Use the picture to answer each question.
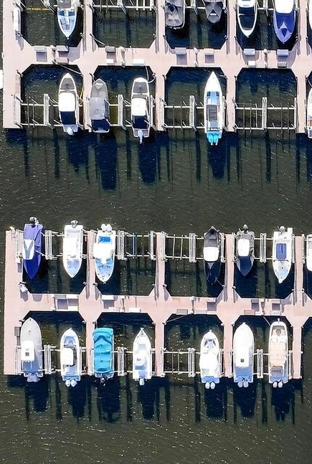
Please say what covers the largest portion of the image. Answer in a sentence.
For the most part, this view shows water.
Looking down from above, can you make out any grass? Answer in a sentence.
No, the picture contains no grass.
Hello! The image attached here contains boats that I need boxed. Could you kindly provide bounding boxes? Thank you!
[22,219,44,279]
[91,327,114,384]
[233,322,254,388]
[273,224,293,285]
[200,328,220,389]
[88,78,110,134]
[58,0,77,40]
[306,234,312,270]
[131,77,150,146]
[204,0,222,24]
[237,0,257,39]
[63,219,84,280]
[269,321,288,389]
[19,318,42,383]
[93,224,116,282]
[236,226,255,277]
[56,71,77,139]
[204,69,222,141]
[132,327,152,386]
[274,0,296,44]
[59,327,80,387]
[203,226,221,285]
